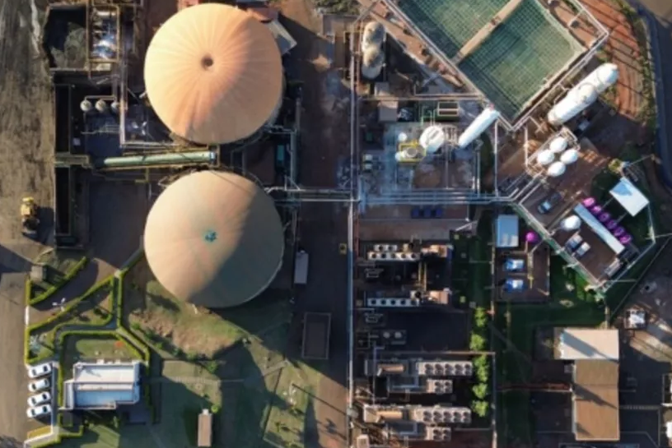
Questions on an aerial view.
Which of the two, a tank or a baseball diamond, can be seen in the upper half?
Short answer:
tank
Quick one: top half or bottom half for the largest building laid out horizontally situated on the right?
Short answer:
bottom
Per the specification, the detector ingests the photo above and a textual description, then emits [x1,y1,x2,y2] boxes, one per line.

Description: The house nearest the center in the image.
[422,246,450,259]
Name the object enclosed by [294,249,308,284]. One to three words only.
vehicle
